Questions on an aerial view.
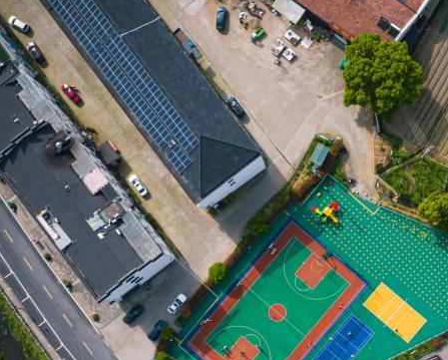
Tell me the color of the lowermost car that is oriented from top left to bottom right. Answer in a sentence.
The color of the lowermost car that is oriented from top left to bottom right is white.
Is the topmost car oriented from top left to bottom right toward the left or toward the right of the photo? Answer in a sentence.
The topmost car oriented from top left to bottom right is on the left side of the image.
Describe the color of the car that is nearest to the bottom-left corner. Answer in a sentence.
In this view, the car that is nearest to the bottom-left corner is black.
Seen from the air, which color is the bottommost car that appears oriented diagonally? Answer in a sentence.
The bottommost car that appears oriented diagonally looks black in the image.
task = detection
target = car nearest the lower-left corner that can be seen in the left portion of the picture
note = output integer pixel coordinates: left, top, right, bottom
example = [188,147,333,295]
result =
[122,303,145,324]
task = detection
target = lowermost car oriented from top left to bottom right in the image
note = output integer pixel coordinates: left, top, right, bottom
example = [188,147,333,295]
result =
[128,174,148,197]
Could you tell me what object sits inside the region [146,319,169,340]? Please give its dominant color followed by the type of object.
black car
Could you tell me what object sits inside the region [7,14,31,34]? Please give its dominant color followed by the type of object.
white car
